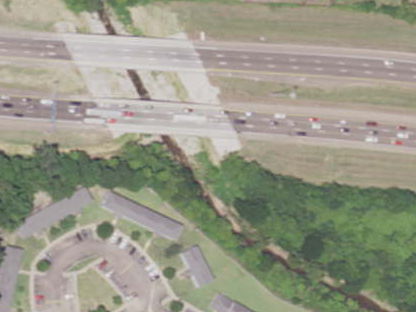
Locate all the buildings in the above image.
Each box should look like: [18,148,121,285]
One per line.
[0,244,24,312]
[209,294,252,312]
[99,192,182,240]
[14,185,92,240]
[180,245,214,286]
